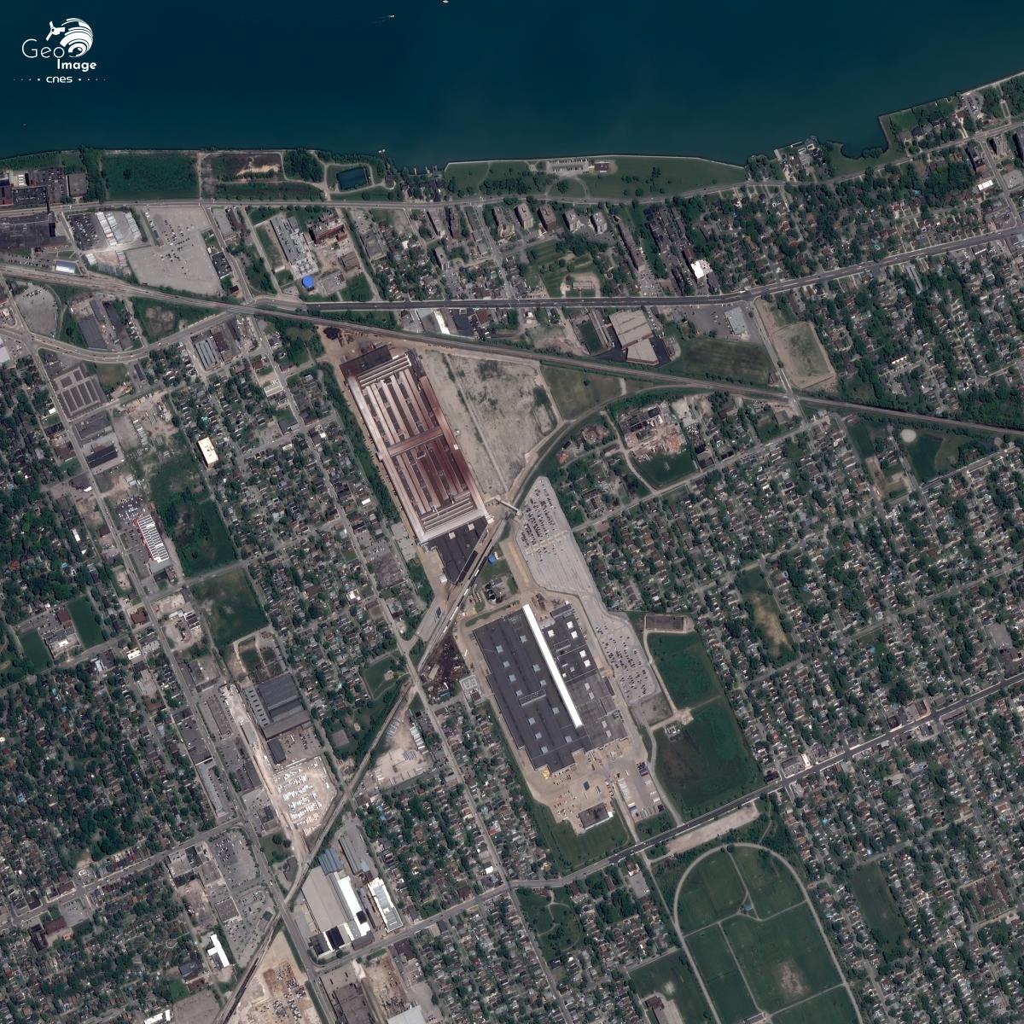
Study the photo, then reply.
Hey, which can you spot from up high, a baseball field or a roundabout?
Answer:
baseball field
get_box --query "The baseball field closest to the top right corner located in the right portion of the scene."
[901,428,942,484]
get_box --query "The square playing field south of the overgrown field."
[194,570,263,646]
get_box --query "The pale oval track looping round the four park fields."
[674,843,862,1024]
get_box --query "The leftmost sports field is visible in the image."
[19,630,52,669]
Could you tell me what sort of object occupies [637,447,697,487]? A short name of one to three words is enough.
sports field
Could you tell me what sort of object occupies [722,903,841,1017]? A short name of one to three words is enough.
sports field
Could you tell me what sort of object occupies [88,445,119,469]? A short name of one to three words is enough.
building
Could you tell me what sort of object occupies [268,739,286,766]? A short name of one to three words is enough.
building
